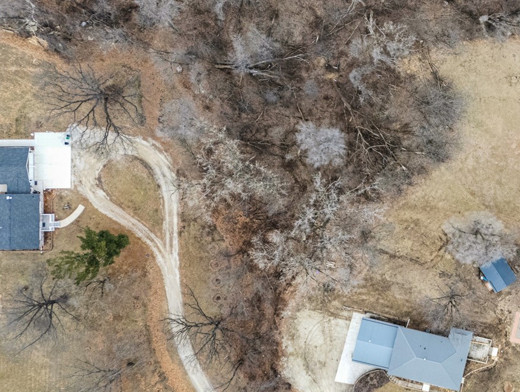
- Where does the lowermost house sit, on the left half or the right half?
right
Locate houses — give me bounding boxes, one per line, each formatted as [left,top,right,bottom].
[351,317,473,392]
[0,147,44,249]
